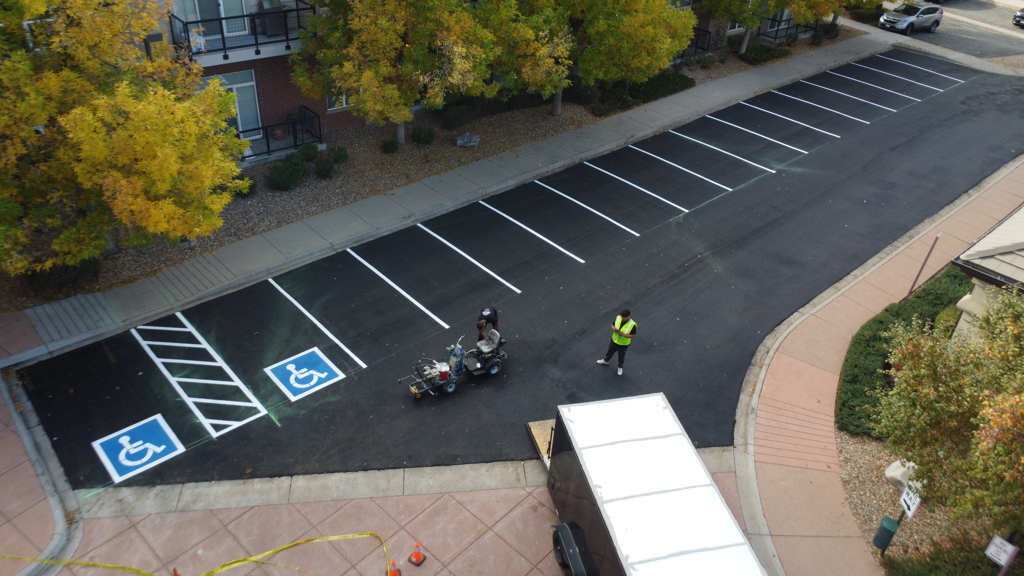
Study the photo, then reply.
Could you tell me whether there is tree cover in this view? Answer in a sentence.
Yes, the picture does contain tree cover.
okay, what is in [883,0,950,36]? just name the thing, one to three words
car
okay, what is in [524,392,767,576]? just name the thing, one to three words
trailer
